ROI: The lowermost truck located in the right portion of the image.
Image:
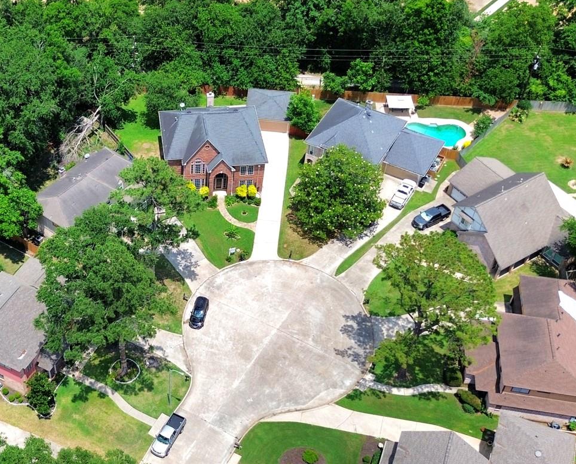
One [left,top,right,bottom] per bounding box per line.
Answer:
[412,201,451,228]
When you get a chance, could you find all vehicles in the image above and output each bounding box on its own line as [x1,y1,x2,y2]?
[149,407,191,459]
[189,289,209,326]
[390,178,416,207]
[412,201,451,228]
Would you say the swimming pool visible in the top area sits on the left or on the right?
right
